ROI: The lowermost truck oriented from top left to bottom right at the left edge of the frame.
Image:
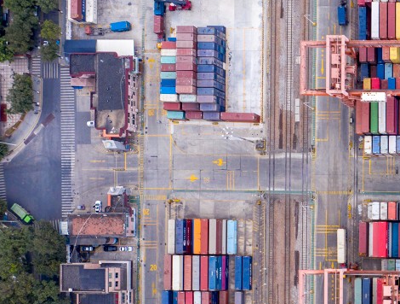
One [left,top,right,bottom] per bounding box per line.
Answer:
[6,204,33,225]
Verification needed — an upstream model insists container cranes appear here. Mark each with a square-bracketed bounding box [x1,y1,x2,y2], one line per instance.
[300,258,400,304]
[301,34,400,118]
